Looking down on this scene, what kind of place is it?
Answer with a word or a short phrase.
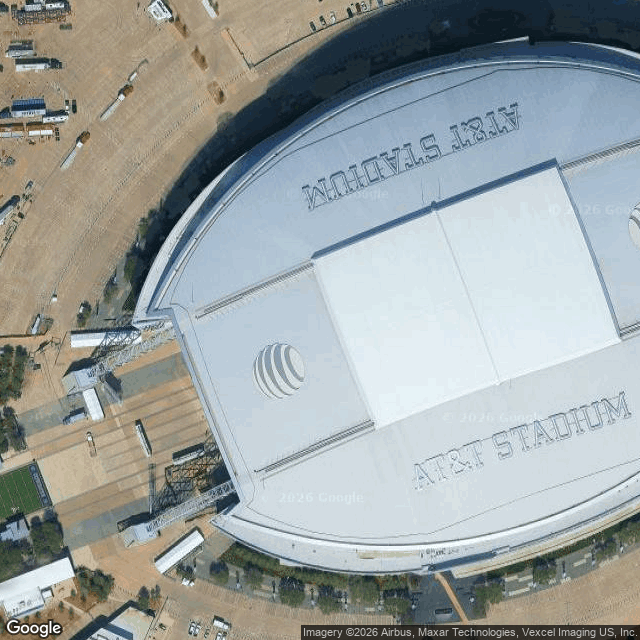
sports ground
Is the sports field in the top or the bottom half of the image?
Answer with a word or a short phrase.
bottom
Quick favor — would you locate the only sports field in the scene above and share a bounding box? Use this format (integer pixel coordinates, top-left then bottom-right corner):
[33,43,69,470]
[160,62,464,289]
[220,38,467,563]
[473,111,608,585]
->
[0,463,52,526]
